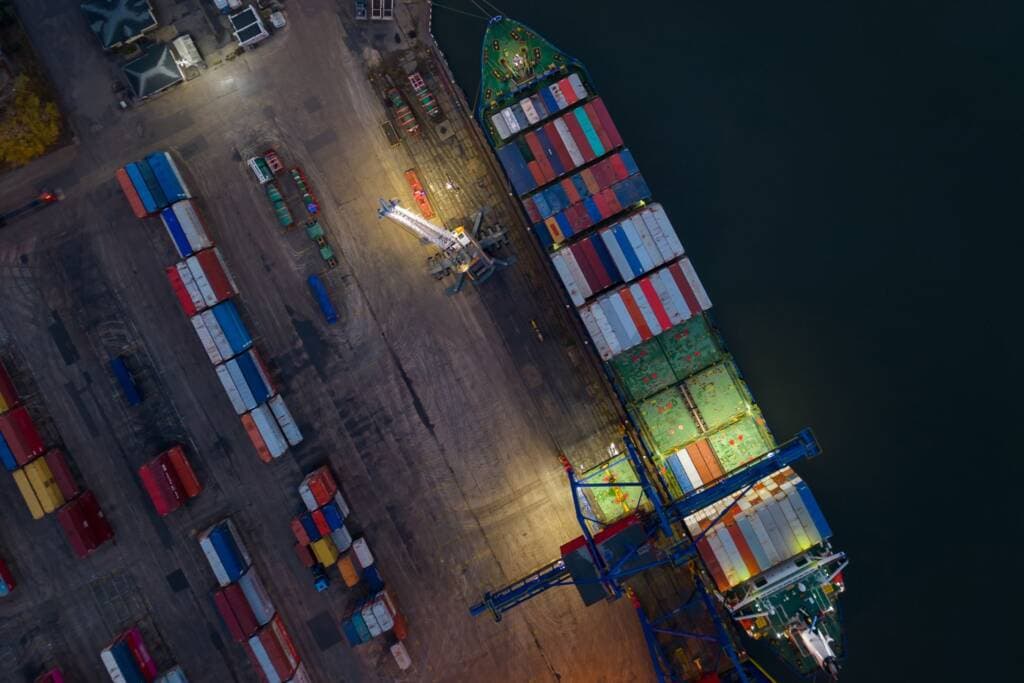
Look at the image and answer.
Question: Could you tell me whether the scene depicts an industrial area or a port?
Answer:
port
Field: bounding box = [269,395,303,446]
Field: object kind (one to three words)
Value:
shipping container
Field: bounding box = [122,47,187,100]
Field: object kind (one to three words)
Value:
house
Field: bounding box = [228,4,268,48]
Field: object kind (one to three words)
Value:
shed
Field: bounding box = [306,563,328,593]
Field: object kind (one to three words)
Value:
truck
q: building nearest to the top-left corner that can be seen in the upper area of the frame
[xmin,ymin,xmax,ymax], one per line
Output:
[80,0,166,49]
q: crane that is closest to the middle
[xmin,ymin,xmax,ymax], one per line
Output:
[375,197,518,297]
